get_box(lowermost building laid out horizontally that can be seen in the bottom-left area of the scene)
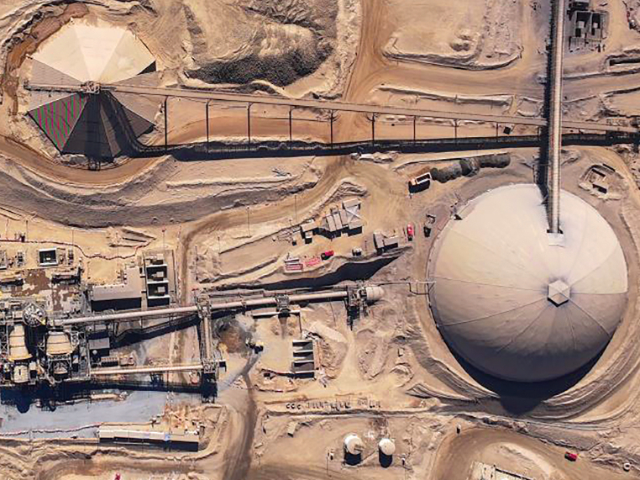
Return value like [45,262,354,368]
[97,425,198,440]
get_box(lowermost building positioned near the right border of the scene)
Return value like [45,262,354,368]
[431,186,629,381]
